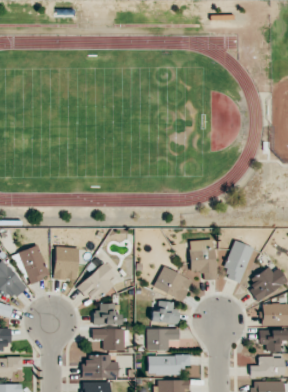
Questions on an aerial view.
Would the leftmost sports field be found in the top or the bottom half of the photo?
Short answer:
top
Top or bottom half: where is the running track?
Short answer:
top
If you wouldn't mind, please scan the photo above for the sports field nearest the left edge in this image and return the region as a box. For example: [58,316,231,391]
[0,50,248,192]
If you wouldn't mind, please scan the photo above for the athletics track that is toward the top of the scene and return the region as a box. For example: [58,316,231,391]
[0,35,263,207]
